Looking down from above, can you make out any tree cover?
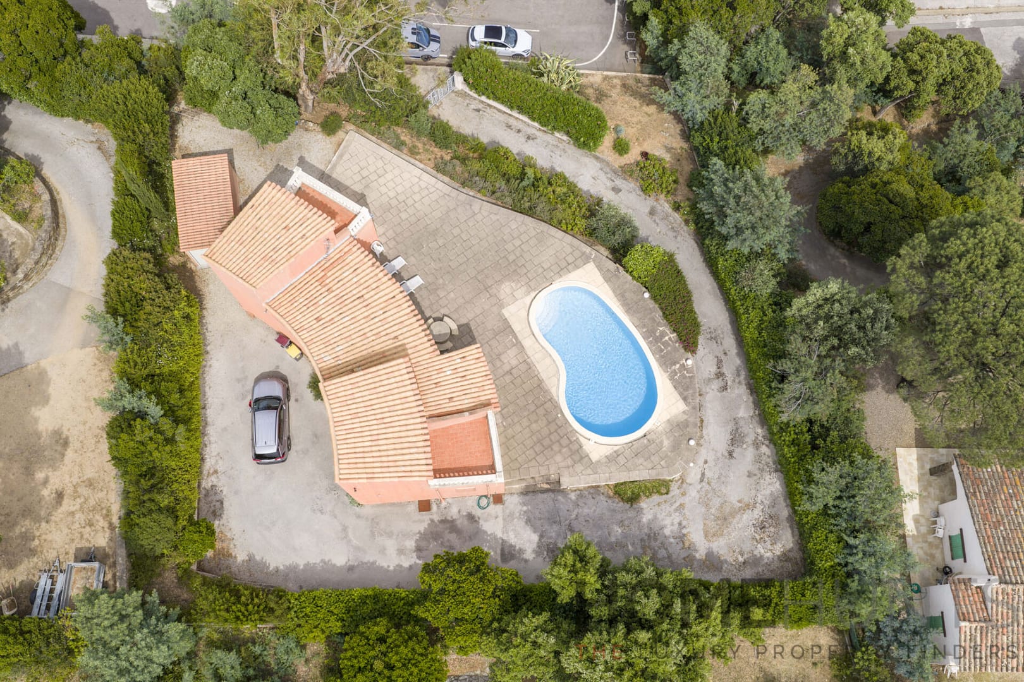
Yes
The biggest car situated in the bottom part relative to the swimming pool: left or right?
left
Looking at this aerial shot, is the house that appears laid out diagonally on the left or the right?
left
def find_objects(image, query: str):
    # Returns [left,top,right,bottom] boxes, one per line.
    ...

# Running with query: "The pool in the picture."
[529,280,665,444]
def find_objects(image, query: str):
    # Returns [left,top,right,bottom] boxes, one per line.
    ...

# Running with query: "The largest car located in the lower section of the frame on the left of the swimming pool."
[242,373,295,470]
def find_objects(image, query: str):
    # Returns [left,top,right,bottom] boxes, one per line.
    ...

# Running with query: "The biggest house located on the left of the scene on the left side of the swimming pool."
[201,167,504,504]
